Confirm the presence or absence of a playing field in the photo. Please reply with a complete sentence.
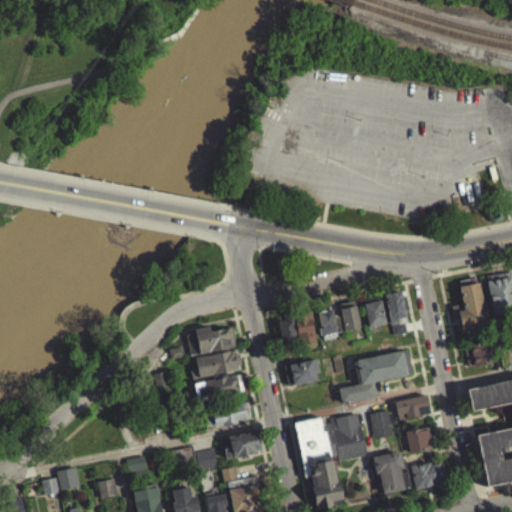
No, the photo shows no playing field.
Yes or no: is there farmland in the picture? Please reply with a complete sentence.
No, there is no farmland in the image.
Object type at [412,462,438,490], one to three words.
house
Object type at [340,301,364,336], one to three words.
house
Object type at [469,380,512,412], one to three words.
building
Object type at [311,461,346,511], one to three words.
building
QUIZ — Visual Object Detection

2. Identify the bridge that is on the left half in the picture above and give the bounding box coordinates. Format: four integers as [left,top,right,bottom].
[0,162,226,243]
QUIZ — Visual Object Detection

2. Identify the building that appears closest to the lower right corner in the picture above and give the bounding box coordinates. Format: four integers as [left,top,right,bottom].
[478,428,512,486]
